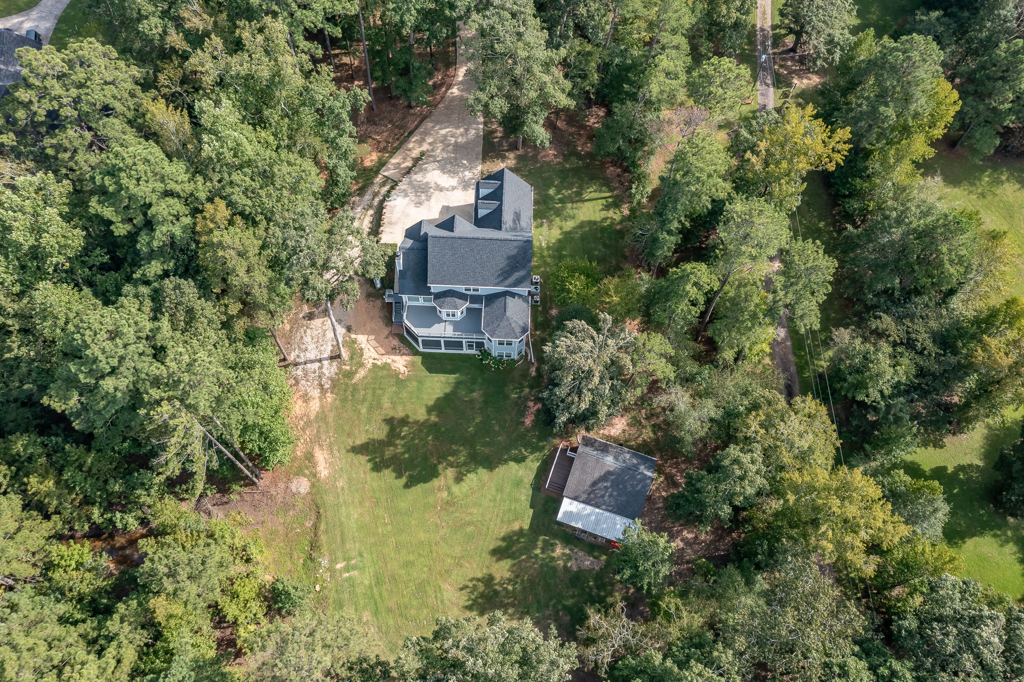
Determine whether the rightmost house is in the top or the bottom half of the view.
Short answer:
bottom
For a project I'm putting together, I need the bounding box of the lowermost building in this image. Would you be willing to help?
[545,433,657,548]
